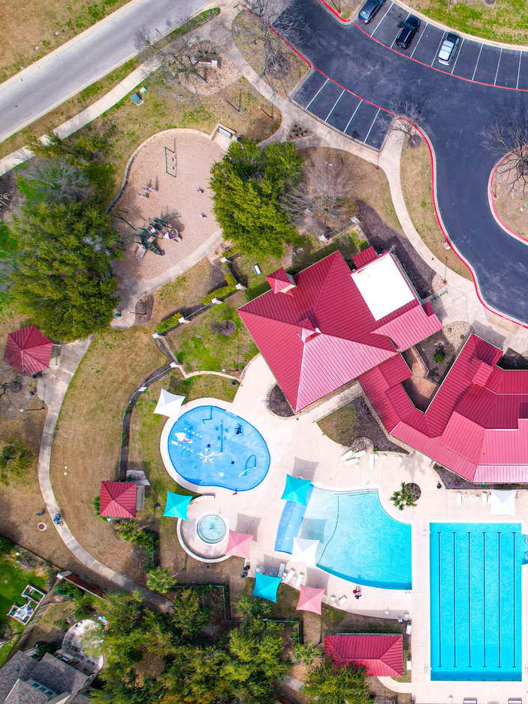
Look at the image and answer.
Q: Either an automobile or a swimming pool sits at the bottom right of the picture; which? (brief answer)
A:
swimming pool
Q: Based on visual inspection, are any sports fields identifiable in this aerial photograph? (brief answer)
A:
No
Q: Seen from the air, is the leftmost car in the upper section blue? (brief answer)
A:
Yes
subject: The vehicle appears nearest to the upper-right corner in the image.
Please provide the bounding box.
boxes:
[439,33,459,69]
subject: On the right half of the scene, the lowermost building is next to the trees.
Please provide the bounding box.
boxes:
[324,635,404,677]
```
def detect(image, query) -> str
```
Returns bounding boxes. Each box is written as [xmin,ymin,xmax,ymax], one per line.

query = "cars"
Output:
[439,33,459,69]
[357,0,385,26]
[394,14,420,49]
